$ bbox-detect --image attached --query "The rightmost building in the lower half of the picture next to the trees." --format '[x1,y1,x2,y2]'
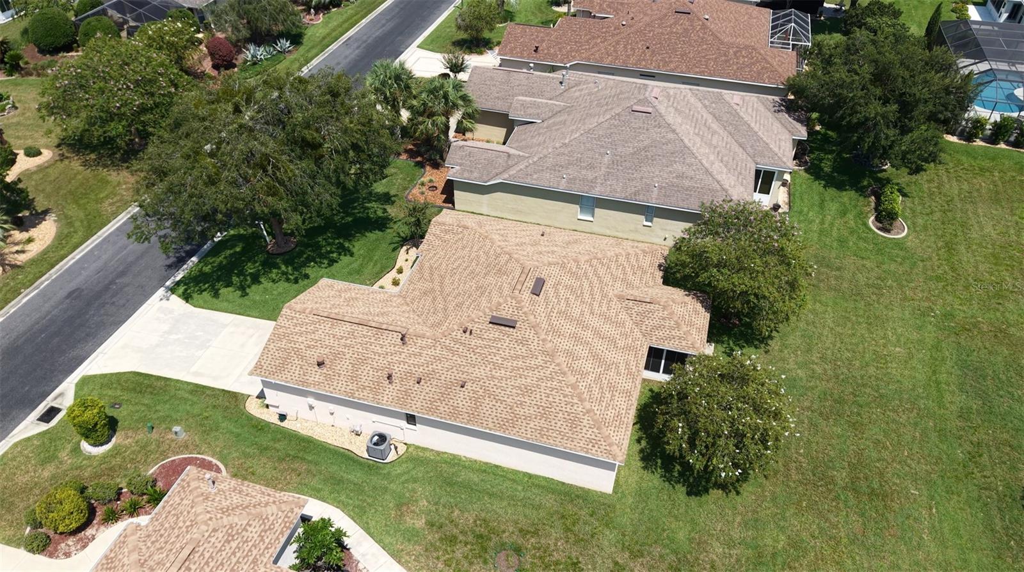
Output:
[240,207,715,494]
